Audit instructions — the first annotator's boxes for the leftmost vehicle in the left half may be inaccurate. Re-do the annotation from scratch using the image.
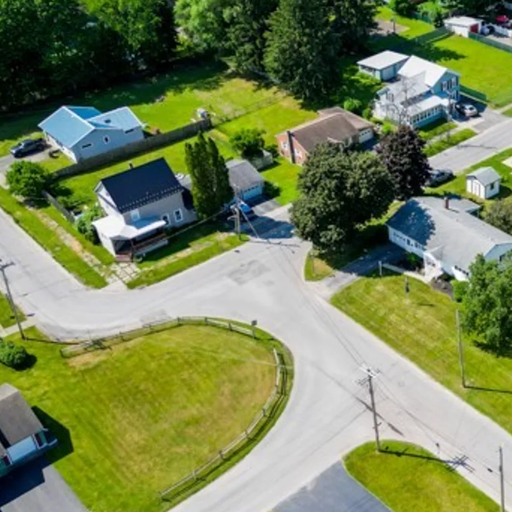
[8,137,47,155]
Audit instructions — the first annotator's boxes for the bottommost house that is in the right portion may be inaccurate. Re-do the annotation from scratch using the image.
[388,193,512,283]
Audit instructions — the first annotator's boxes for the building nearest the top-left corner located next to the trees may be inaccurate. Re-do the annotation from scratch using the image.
[40,105,145,161]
